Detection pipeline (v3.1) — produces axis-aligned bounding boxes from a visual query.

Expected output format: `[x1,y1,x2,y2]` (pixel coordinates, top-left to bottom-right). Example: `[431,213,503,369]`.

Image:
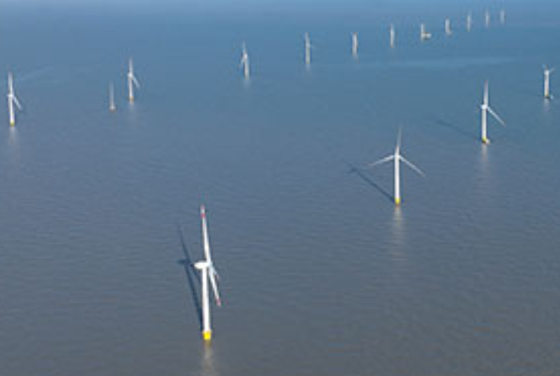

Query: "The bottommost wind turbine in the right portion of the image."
[371,123,425,203]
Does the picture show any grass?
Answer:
No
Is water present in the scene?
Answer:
Yes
